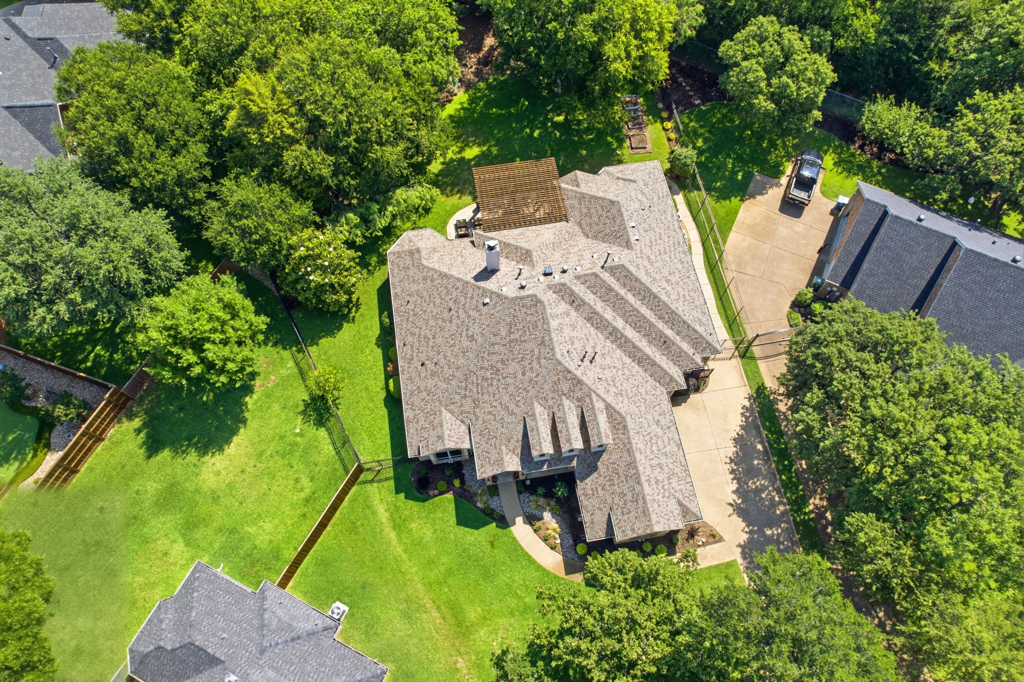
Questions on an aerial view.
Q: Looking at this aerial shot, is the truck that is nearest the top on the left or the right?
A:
right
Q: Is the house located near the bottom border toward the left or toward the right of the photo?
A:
left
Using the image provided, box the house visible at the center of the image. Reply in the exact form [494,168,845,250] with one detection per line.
[386,158,722,543]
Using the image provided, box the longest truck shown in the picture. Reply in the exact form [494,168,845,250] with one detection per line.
[784,149,825,213]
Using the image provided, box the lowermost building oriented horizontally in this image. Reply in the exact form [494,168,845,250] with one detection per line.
[124,558,390,682]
